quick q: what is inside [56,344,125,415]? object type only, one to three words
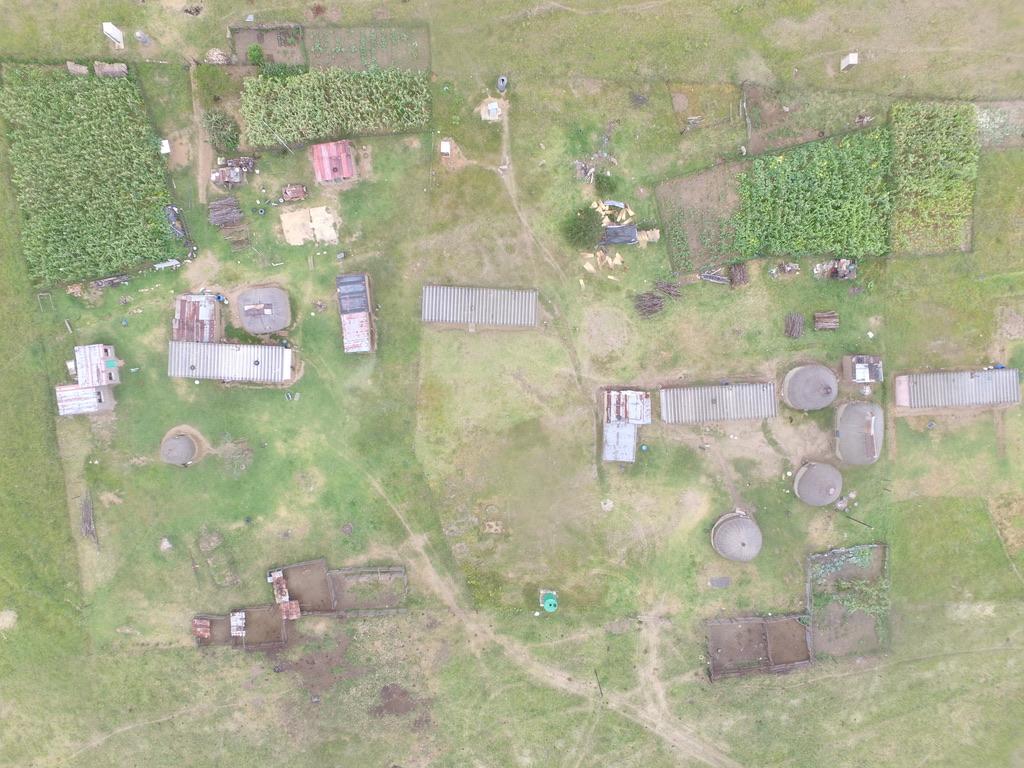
house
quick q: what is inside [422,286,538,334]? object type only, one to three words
house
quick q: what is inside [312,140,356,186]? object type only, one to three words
shed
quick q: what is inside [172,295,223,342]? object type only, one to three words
shed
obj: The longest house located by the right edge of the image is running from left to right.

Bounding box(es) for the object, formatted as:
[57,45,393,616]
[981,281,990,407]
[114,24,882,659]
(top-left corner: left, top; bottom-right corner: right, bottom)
[894,369,1020,408]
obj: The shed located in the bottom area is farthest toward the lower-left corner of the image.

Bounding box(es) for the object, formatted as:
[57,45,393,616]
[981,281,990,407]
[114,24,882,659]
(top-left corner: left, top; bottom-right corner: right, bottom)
[192,618,216,638]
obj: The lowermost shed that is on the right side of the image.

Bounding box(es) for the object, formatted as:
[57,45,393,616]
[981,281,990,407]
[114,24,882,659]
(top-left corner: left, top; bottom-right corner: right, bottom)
[709,509,762,563]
